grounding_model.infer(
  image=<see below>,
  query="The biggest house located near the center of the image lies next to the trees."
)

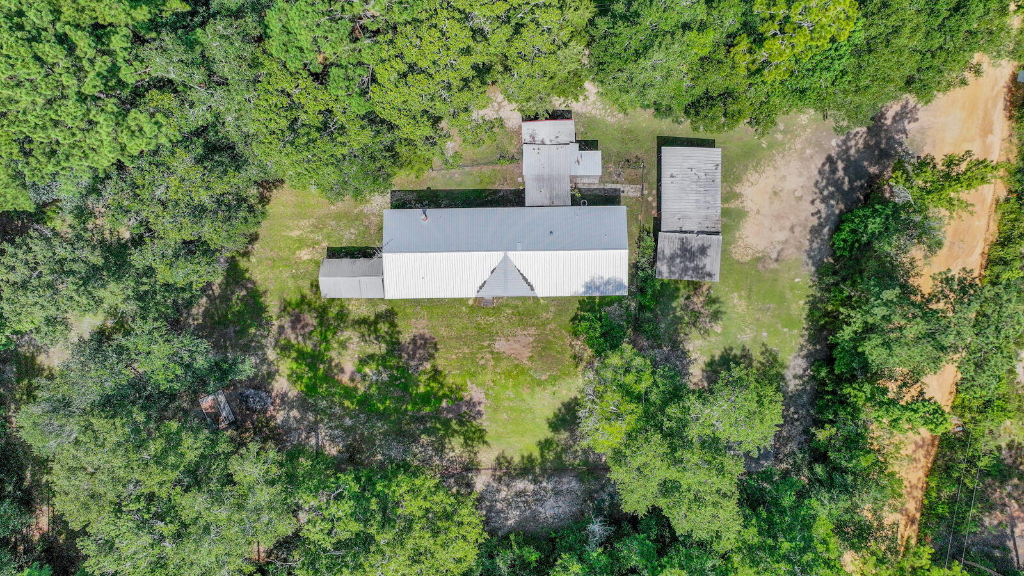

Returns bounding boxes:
[381,205,630,300]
